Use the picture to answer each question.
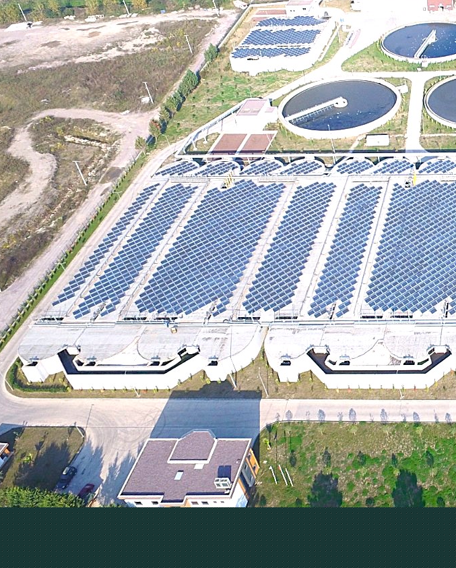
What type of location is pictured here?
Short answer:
industrial area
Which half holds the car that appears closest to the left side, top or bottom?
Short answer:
bottom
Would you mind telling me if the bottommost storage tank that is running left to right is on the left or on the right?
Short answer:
right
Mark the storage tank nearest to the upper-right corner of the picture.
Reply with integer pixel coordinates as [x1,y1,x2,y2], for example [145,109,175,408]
[380,22,456,64]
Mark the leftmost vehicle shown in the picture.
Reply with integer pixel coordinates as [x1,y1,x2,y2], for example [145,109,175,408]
[51,462,80,487]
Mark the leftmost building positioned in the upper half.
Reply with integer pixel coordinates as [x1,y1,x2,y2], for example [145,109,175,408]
[234,100,281,130]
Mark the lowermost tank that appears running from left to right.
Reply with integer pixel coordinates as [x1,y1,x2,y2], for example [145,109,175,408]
[279,78,402,139]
